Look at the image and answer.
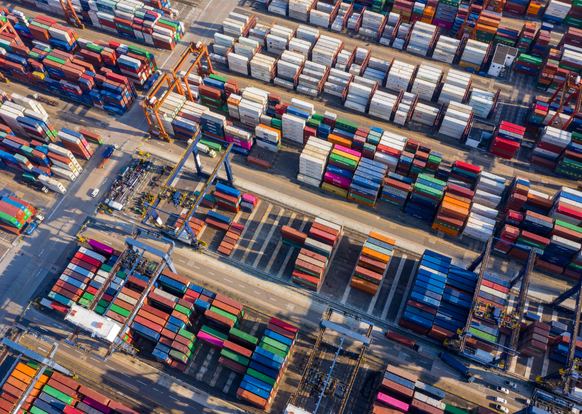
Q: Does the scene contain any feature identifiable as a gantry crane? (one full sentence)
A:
Yes, the frame does contain a gantry crane.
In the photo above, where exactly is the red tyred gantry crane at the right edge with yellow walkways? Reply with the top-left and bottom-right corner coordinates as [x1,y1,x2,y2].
[542,76,582,130]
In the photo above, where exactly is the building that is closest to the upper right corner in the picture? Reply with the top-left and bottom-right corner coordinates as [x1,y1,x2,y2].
[488,44,518,76]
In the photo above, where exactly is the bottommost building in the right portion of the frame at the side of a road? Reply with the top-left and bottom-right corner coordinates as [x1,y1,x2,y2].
[465,119,495,147]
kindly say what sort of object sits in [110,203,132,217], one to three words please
vehicle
